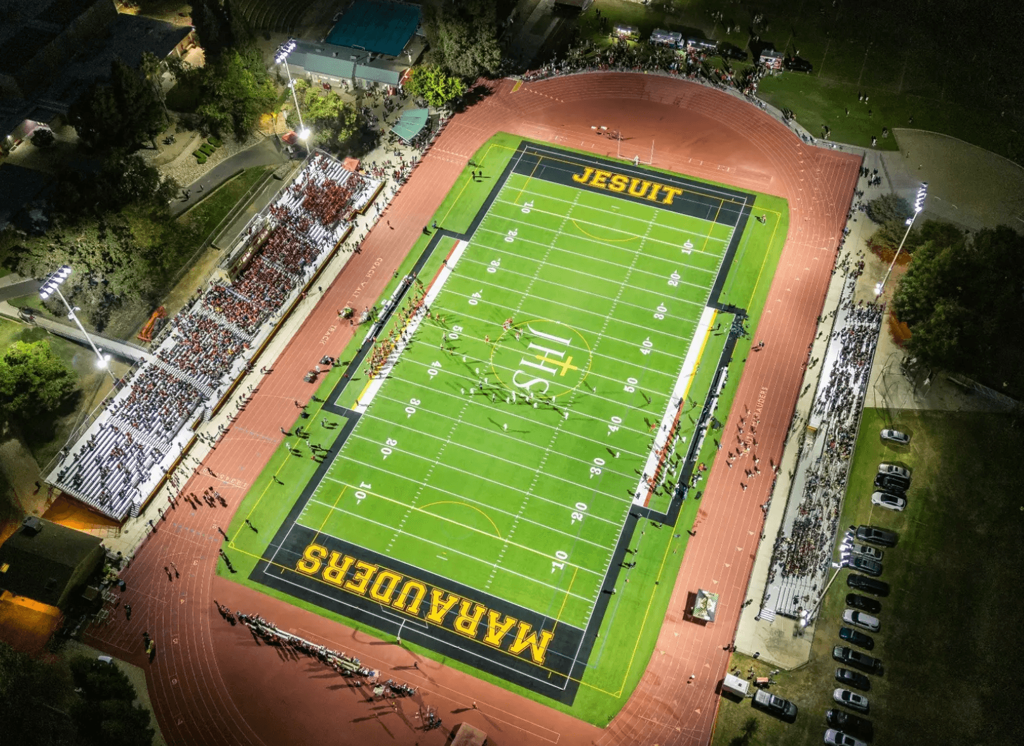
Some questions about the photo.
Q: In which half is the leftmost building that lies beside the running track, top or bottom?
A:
bottom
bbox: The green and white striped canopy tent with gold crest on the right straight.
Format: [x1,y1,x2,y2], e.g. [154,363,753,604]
[689,589,720,629]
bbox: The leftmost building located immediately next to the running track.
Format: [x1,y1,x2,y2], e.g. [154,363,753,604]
[0,505,109,617]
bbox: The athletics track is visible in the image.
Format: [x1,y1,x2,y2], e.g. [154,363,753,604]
[75,74,865,746]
